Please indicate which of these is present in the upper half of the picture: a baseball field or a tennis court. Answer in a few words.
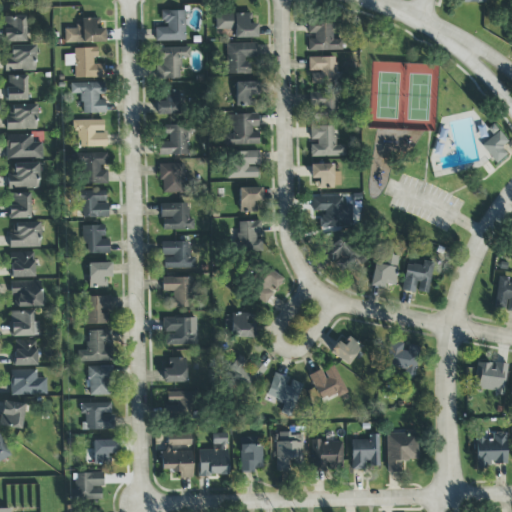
tennis court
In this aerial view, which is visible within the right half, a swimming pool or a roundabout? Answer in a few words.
swimming pool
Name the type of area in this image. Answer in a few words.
residential area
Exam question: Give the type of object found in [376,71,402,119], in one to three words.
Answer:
tennis court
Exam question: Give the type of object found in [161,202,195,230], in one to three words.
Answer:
house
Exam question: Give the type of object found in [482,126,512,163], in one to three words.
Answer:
building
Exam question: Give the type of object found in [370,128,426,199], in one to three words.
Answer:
playground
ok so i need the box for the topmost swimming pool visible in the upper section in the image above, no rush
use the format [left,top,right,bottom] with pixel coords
[186,8,202,31]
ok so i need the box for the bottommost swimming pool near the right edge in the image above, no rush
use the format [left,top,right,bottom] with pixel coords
[431,110,490,177]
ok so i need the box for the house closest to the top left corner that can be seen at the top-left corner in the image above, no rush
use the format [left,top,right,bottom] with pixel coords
[5,16,28,40]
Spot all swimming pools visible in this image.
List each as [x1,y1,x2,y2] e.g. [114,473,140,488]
[190,49,203,72]
[186,8,202,31]
[431,110,490,177]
